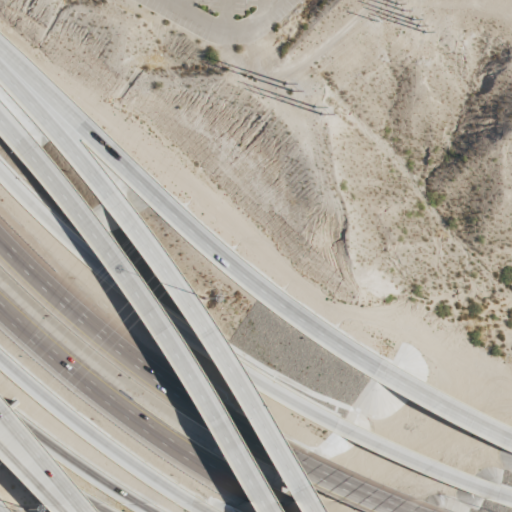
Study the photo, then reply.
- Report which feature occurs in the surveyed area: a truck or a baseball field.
truck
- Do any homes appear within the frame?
No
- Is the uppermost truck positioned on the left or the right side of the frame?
left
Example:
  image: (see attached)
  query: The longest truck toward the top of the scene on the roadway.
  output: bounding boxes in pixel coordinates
[90,130,124,163]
